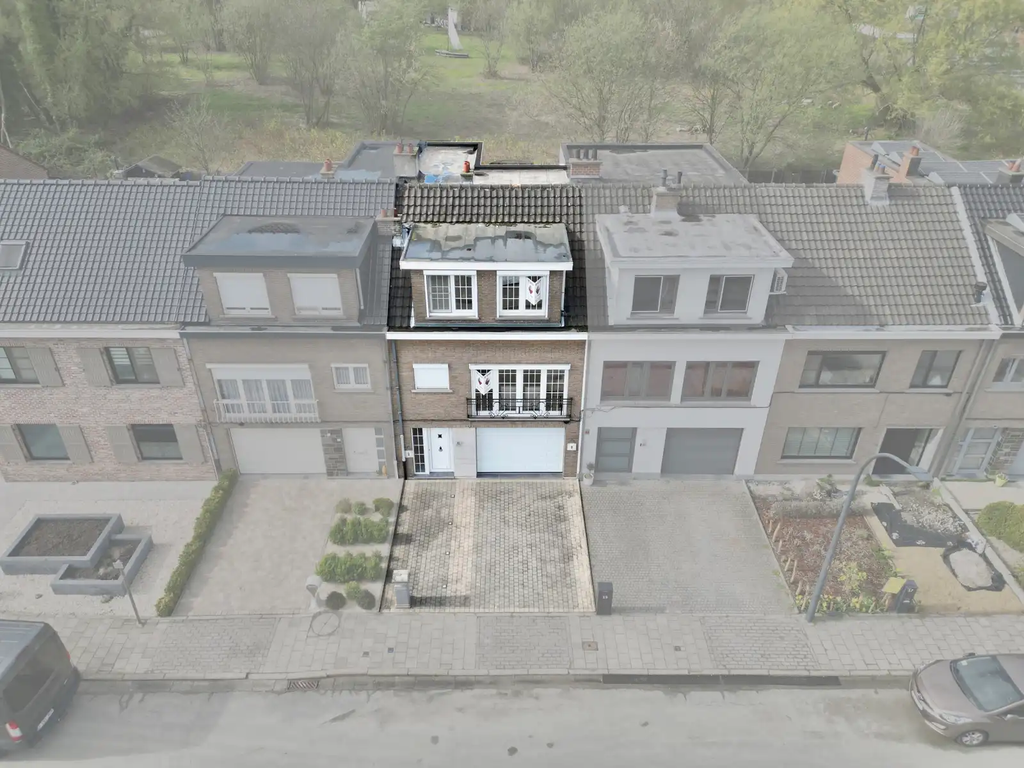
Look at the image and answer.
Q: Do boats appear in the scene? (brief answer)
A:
Yes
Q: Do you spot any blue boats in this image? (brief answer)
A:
No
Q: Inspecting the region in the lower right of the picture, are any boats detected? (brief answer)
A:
No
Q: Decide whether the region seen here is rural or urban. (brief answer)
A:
urban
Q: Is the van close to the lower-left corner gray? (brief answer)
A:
Yes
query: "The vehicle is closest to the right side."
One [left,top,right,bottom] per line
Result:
[906,655,1024,748]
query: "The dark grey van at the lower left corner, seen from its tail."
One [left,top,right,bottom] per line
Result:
[0,632,81,747]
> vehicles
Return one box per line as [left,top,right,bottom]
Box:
[0,632,81,747]
[906,655,1024,748]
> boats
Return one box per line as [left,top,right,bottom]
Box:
[430,8,473,54]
